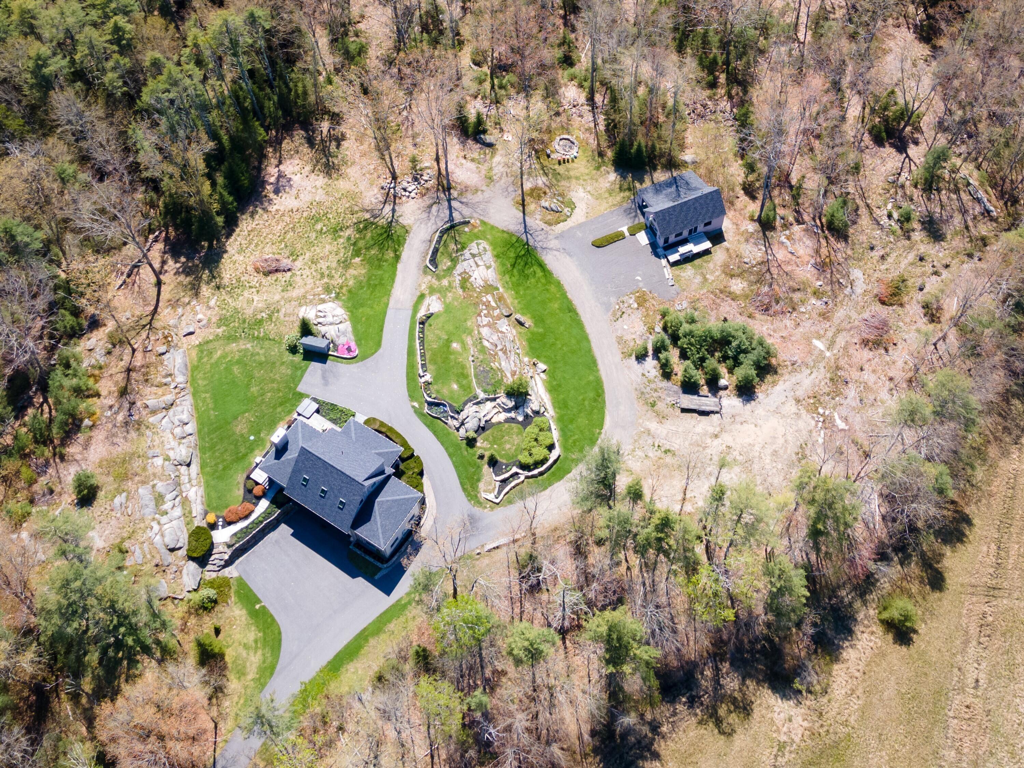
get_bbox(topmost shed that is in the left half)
[299,332,329,356]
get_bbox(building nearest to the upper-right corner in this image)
[637,170,726,246]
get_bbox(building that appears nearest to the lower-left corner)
[257,417,424,559]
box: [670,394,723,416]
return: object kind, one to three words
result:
trailer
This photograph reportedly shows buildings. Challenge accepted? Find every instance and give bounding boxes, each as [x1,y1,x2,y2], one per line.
[299,332,329,356]
[257,417,424,559]
[637,170,726,246]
